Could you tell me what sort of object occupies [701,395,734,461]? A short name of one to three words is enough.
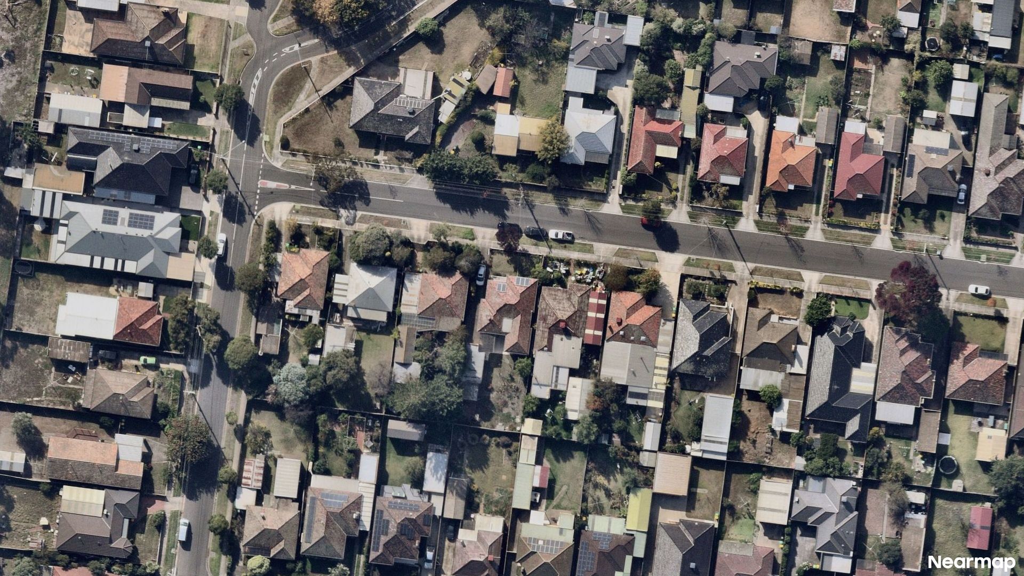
building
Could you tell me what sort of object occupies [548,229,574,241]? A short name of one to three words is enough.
vehicle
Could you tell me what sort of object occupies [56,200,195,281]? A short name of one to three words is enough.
house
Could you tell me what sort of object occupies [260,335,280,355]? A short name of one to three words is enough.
shed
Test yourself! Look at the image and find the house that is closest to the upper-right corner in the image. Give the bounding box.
[970,0,1015,50]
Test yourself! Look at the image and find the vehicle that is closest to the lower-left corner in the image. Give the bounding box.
[177,517,190,542]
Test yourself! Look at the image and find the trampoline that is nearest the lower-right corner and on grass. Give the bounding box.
[938,455,957,474]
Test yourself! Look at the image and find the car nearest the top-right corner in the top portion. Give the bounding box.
[960,120,972,144]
